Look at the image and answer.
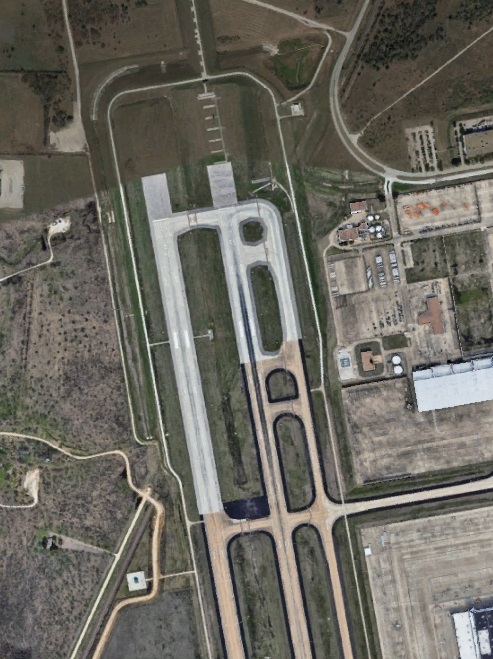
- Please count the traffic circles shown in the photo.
zero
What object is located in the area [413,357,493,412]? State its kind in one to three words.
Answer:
hangar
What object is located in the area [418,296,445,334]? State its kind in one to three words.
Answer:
building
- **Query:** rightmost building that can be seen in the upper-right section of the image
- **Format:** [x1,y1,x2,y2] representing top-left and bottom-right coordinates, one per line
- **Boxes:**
[463,129,493,158]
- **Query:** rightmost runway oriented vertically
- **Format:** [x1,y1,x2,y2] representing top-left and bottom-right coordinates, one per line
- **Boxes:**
[218,208,312,659]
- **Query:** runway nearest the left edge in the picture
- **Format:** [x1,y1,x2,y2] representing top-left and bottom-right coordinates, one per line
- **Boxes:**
[152,218,244,659]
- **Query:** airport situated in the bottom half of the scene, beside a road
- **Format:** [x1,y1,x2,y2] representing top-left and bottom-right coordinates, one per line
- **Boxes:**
[142,161,493,659]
